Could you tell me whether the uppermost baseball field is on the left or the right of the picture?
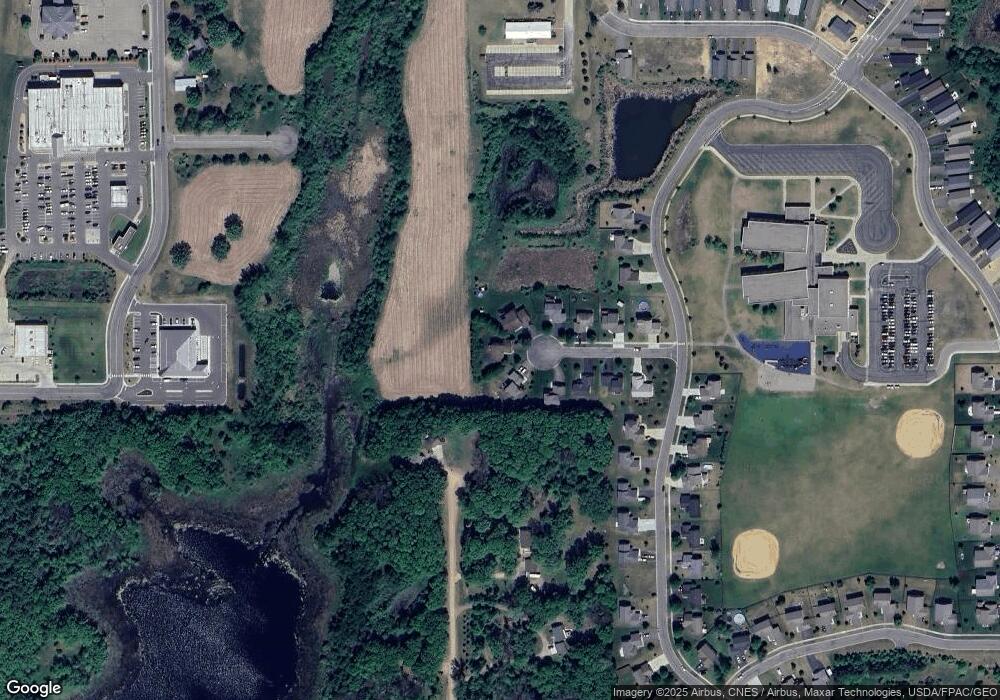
right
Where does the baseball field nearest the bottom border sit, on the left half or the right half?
right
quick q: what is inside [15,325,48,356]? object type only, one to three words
building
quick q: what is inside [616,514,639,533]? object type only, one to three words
house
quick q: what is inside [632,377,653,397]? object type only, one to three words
house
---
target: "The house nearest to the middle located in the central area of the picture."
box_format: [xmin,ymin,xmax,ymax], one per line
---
[487,343,513,361]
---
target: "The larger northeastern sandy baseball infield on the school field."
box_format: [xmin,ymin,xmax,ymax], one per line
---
[896,408,943,458]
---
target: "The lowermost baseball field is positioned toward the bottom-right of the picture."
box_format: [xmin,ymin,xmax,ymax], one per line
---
[732,528,778,579]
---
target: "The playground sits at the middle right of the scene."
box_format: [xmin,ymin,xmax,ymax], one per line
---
[737,332,815,391]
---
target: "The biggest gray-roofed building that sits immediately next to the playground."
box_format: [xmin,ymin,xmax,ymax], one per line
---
[742,207,858,341]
